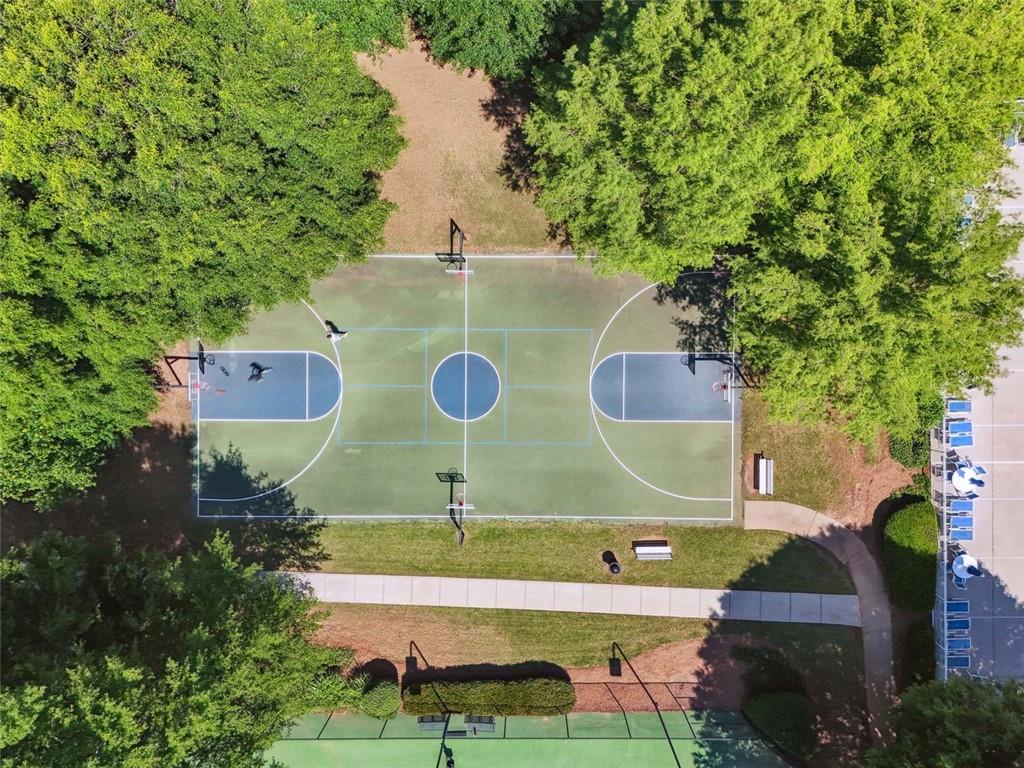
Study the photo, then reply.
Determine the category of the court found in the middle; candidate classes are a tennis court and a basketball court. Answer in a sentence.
I'd say the court found in the middle is a basketball court.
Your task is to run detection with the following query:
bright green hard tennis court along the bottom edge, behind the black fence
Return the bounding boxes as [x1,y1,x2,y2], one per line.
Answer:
[186,713,789,768]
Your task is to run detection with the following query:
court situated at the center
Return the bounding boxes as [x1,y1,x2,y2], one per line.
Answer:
[190,250,744,527]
